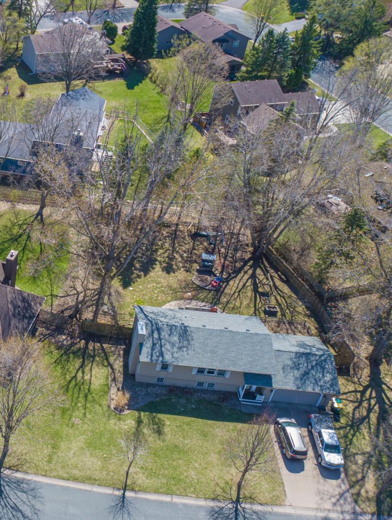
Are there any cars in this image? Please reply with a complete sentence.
Yes, I can see a car in this picture.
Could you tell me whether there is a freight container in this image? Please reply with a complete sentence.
No, there isn't any freight container down there.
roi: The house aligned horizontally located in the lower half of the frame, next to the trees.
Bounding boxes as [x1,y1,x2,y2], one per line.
[124,305,340,408]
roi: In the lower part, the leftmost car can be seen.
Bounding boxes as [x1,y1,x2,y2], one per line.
[274,414,313,458]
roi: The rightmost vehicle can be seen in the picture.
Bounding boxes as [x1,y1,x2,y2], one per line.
[308,412,346,470]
